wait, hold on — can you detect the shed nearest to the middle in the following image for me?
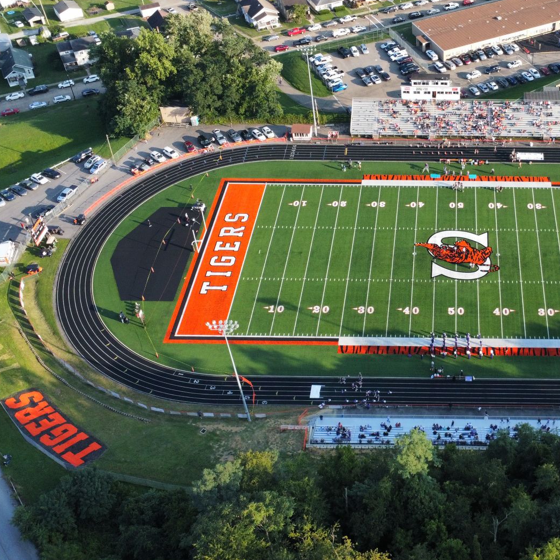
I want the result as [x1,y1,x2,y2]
[291,120,312,141]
